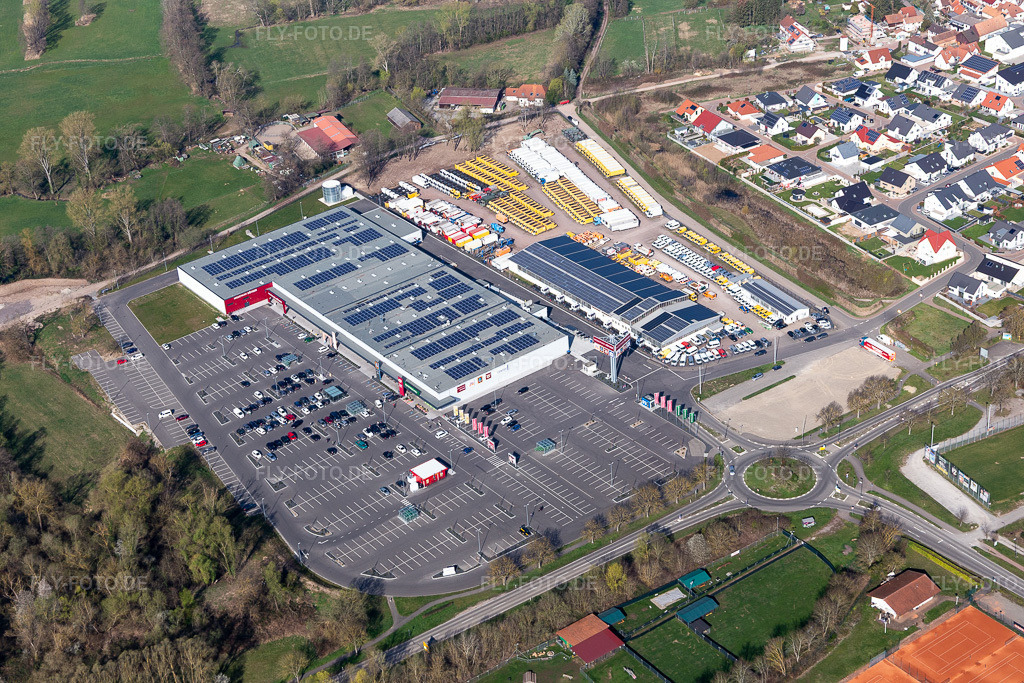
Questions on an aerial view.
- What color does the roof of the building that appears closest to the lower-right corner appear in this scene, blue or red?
red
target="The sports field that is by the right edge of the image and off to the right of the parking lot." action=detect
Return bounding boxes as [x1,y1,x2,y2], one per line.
[937,424,1024,512]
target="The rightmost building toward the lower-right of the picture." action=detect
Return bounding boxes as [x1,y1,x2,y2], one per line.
[865,572,943,626]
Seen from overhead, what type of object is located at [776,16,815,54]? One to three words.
house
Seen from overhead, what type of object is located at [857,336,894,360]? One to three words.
truck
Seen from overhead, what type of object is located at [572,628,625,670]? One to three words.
shed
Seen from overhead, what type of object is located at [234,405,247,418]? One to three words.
vehicle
